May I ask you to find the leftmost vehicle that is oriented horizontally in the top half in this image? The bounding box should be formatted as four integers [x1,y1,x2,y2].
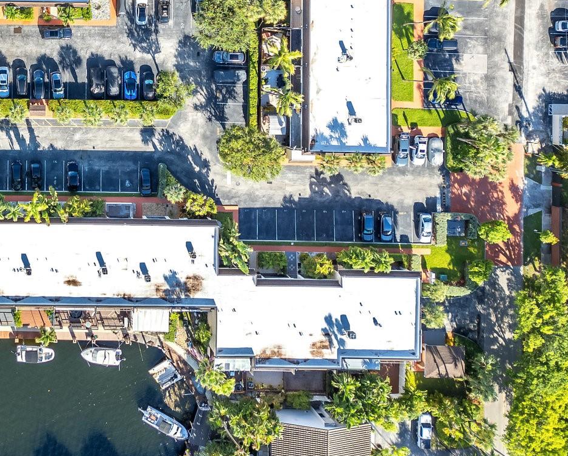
[42,26,72,41]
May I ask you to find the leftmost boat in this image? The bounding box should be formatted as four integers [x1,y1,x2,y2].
[14,346,56,363]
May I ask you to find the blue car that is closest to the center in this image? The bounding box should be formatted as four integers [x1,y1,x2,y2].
[359,211,377,242]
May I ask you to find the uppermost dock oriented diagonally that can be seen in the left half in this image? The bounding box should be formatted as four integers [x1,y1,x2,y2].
[129,333,210,407]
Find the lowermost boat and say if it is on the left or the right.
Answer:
left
